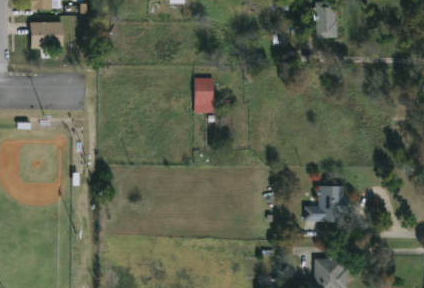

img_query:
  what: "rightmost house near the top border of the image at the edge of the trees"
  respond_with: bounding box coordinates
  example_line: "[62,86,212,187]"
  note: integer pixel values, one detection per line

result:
[316,2,337,38]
